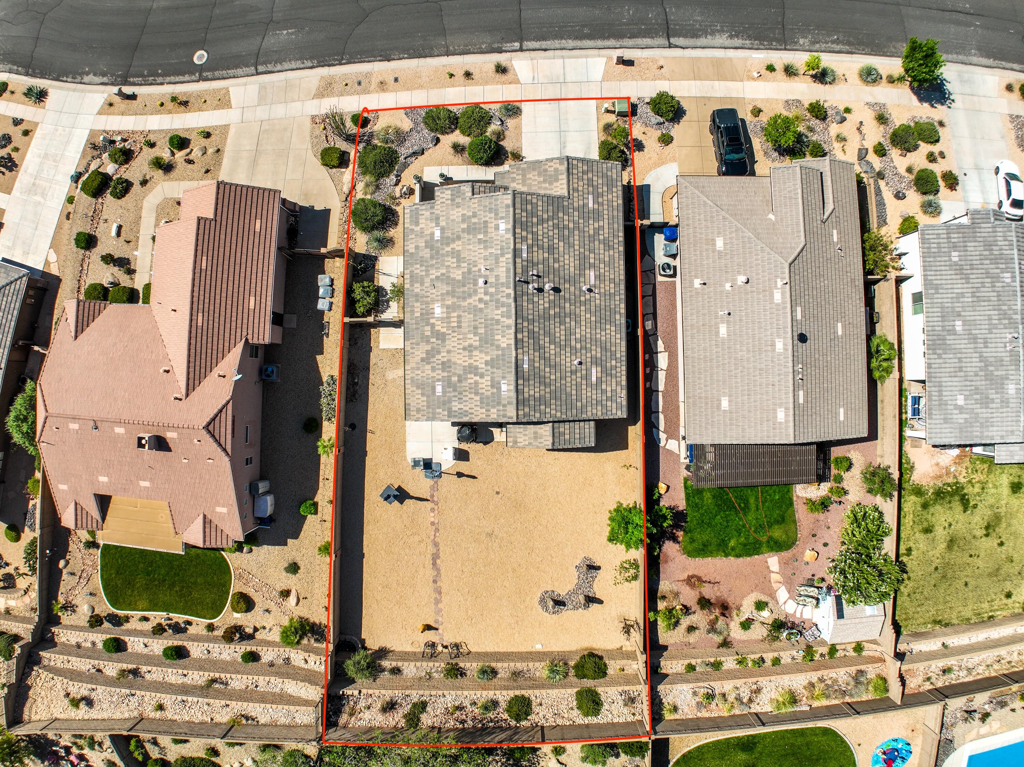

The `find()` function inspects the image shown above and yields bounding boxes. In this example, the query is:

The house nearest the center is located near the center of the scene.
[402,155,627,450]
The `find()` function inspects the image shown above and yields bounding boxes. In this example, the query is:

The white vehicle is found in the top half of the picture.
[989,158,1024,224]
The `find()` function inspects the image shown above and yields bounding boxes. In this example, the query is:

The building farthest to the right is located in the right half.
[900,208,1024,464]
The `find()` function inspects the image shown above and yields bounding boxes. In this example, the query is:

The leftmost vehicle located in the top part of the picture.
[707,107,751,176]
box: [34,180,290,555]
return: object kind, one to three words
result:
house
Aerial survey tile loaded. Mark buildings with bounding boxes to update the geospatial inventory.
[900,208,1024,464]
[34,180,290,555]
[673,157,868,445]
[814,587,884,643]
[402,155,627,450]
[0,260,51,473]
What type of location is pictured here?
residential area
